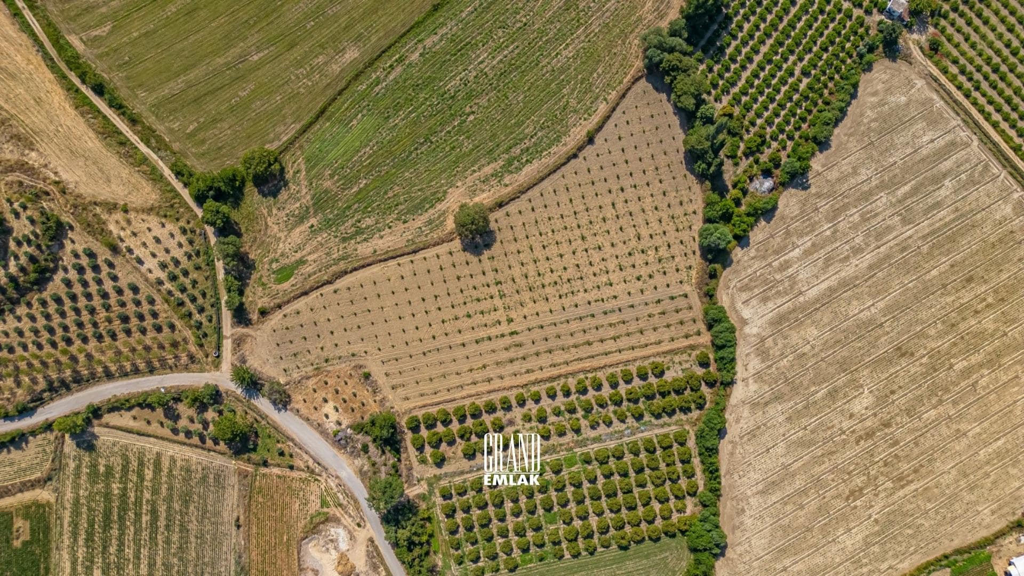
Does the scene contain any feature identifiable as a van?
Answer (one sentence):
No, I can't see a single van in this photo.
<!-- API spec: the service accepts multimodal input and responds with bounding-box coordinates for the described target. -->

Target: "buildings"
[1003,549,1024,576]
[879,0,907,20]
